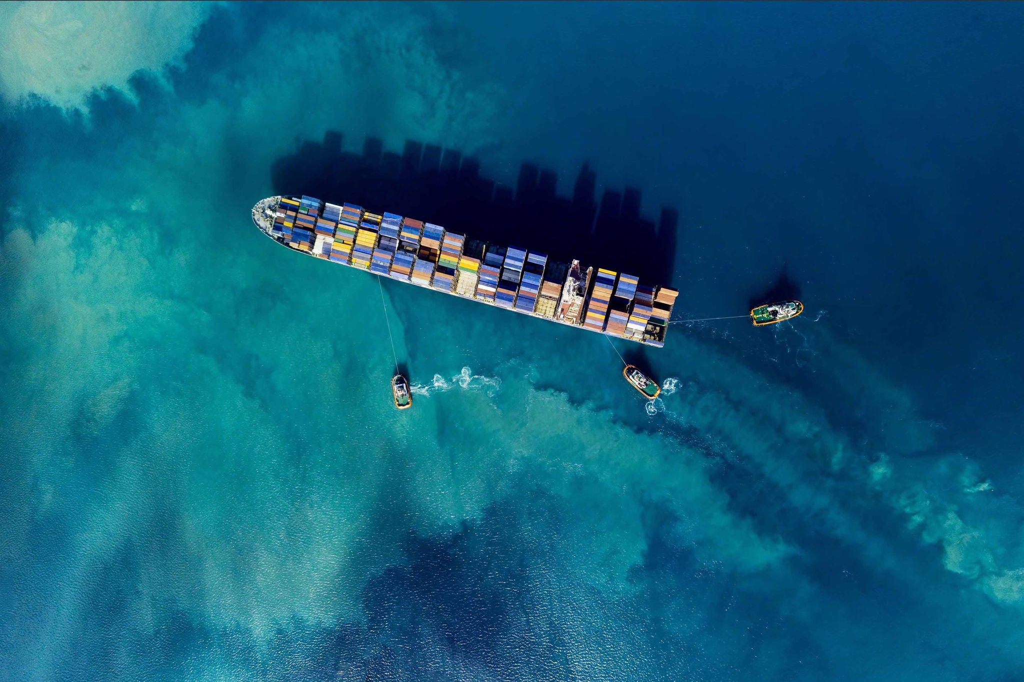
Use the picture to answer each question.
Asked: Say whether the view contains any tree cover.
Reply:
No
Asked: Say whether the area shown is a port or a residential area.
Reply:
port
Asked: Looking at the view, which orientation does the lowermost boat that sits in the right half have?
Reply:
at an angle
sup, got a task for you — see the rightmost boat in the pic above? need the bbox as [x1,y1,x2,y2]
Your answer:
[750,299,804,329]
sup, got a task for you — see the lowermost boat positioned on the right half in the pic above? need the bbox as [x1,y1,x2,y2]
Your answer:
[624,363,662,402]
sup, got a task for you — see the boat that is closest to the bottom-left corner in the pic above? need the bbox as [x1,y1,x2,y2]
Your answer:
[391,373,413,409]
